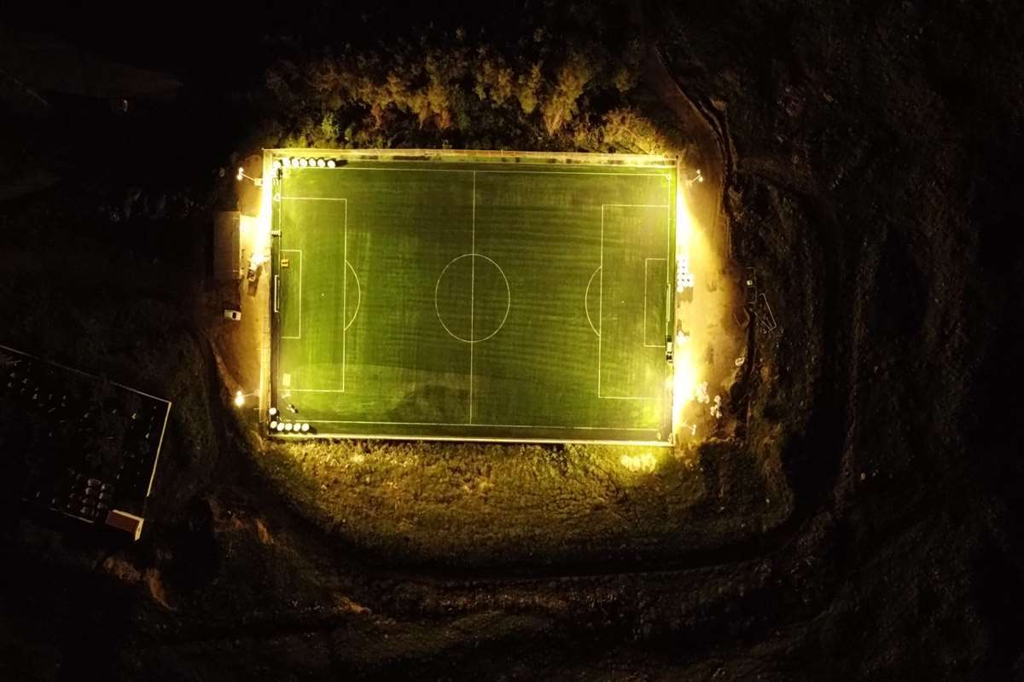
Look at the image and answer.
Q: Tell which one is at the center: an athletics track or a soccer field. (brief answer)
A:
soccer field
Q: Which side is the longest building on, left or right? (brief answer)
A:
left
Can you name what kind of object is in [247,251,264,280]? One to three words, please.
vehicle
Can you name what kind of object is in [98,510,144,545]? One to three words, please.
building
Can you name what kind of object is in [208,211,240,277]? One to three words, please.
building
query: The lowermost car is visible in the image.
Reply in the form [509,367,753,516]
[221,309,240,321]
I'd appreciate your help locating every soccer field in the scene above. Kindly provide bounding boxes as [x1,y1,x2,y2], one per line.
[271,154,677,443]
